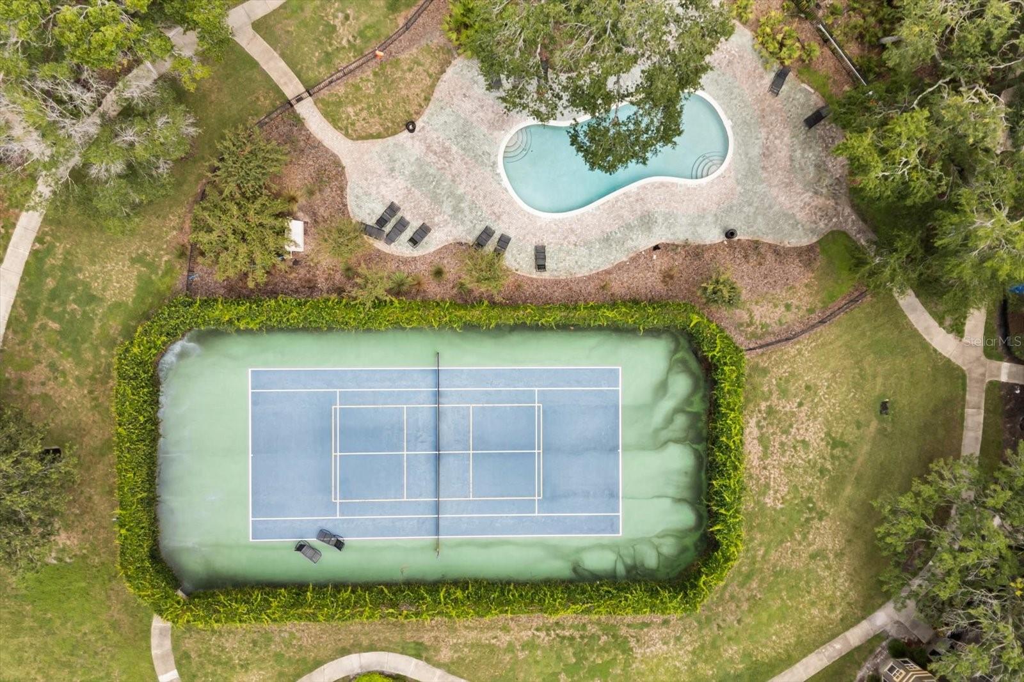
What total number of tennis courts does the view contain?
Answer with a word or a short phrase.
1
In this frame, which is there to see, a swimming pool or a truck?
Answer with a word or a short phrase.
swimming pool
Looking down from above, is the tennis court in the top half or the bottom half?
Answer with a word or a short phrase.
bottom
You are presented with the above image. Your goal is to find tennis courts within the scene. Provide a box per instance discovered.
[155,325,711,591]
